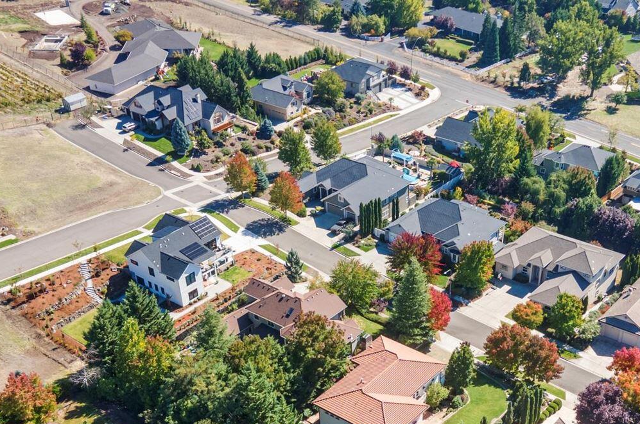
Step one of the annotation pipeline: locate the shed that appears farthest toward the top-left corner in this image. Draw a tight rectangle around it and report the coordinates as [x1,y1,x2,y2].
[55,89,90,112]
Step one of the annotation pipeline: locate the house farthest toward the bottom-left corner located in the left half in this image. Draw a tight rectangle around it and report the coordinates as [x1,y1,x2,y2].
[119,206,245,307]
